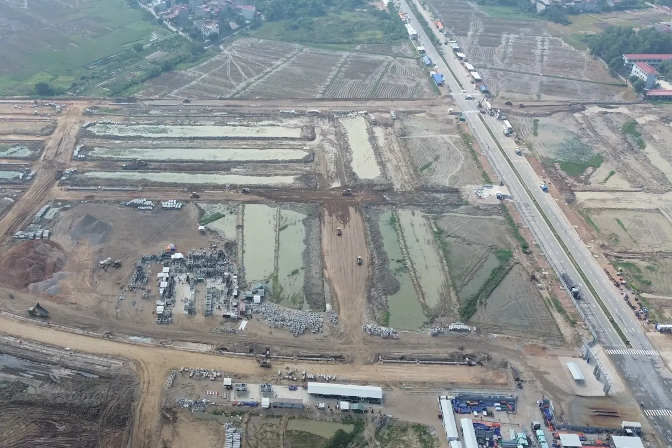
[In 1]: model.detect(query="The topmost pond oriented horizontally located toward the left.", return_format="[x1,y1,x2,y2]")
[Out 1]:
[89,124,303,138]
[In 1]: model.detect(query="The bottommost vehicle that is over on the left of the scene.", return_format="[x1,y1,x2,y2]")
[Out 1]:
[256,347,271,367]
